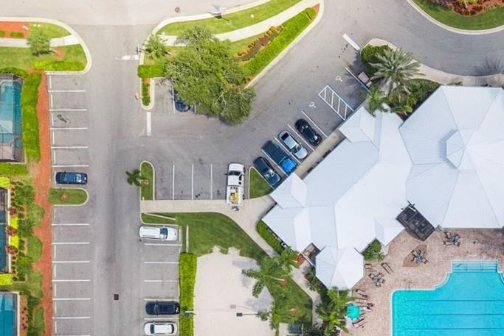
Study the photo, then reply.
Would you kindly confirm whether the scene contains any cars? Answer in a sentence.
Yes, looking at the shot, I can spot a car.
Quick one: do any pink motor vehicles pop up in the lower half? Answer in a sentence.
No, no pink motor vehicle is visible in the lower half.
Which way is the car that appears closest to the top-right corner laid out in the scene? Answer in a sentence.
The car that appears closest to the top-right corner is laid out at an angle.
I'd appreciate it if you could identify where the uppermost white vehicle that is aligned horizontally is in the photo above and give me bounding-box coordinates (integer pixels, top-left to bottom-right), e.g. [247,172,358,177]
[141,226,178,242]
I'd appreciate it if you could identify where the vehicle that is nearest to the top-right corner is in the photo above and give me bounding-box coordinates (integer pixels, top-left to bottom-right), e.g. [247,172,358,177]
[295,116,323,147]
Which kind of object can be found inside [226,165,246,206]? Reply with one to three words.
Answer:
vehicle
